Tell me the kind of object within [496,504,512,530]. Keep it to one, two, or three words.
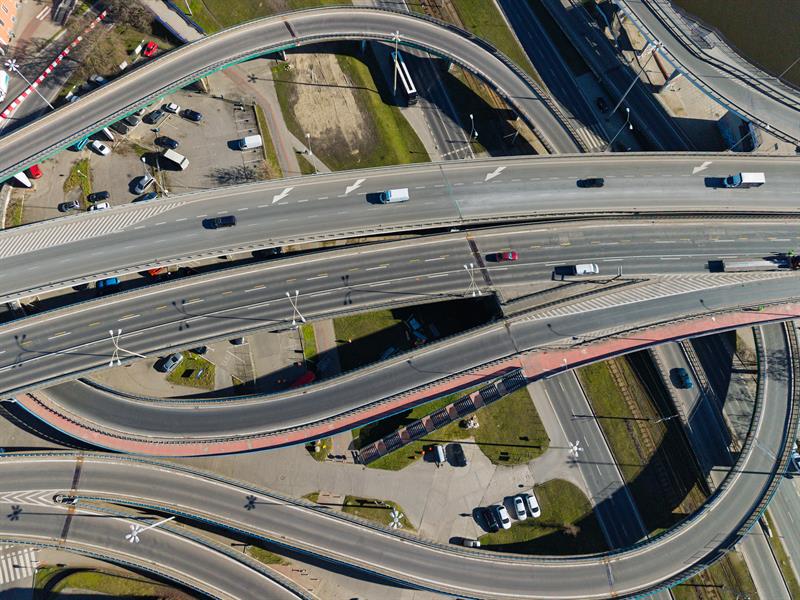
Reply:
car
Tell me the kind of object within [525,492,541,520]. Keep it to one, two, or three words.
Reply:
car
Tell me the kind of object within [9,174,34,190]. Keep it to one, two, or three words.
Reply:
vehicle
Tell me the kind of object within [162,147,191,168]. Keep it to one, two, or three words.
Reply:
truck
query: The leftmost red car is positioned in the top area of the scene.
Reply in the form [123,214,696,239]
[24,165,45,178]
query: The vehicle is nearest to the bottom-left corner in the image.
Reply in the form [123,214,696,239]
[162,352,184,373]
